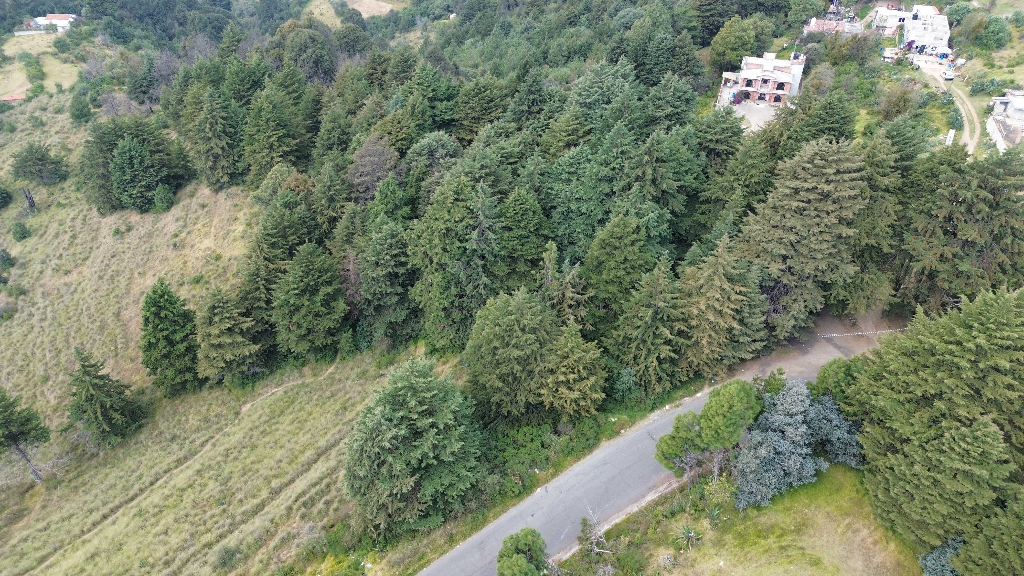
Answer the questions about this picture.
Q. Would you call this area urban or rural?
rural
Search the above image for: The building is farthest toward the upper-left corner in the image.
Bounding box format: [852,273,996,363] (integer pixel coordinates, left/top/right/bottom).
[30,10,78,30]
